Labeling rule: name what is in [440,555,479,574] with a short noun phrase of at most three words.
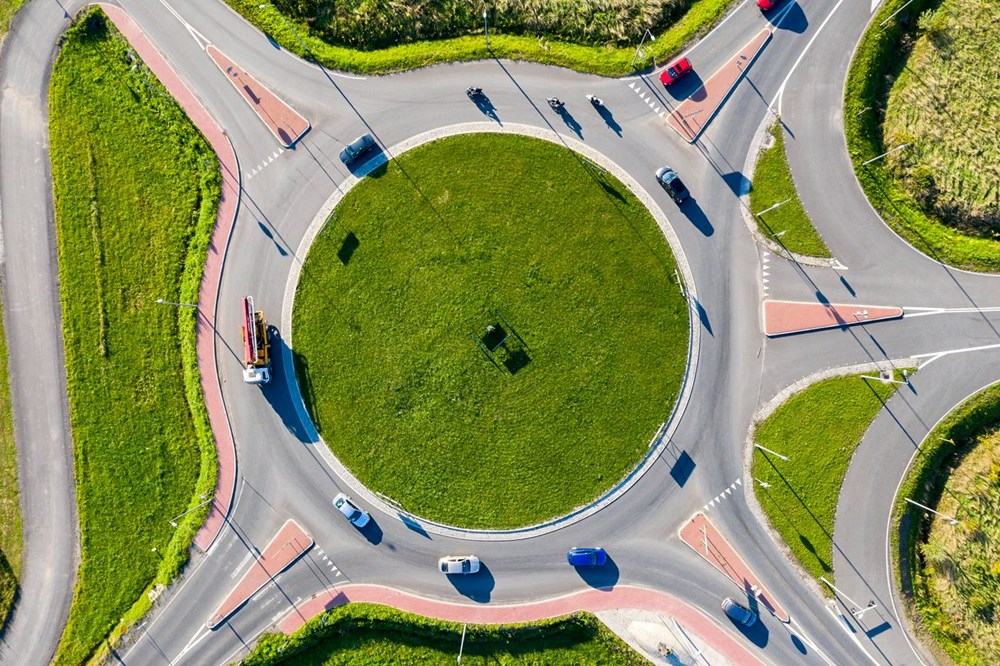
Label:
car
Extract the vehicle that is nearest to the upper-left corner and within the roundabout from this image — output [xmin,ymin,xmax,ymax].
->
[338,133,375,166]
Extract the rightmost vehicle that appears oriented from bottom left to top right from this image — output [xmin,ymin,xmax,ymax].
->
[658,58,694,87]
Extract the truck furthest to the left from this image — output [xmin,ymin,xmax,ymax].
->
[242,302,274,384]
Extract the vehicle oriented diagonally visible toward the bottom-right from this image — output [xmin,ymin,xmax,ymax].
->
[722,595,755,626]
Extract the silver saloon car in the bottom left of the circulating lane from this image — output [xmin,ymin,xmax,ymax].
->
[333,491,370,525]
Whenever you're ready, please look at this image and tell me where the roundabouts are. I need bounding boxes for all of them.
[232,72,748,589]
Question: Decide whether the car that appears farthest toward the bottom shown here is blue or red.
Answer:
blue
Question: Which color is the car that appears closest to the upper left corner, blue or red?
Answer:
blue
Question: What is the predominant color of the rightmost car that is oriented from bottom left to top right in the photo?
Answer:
red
